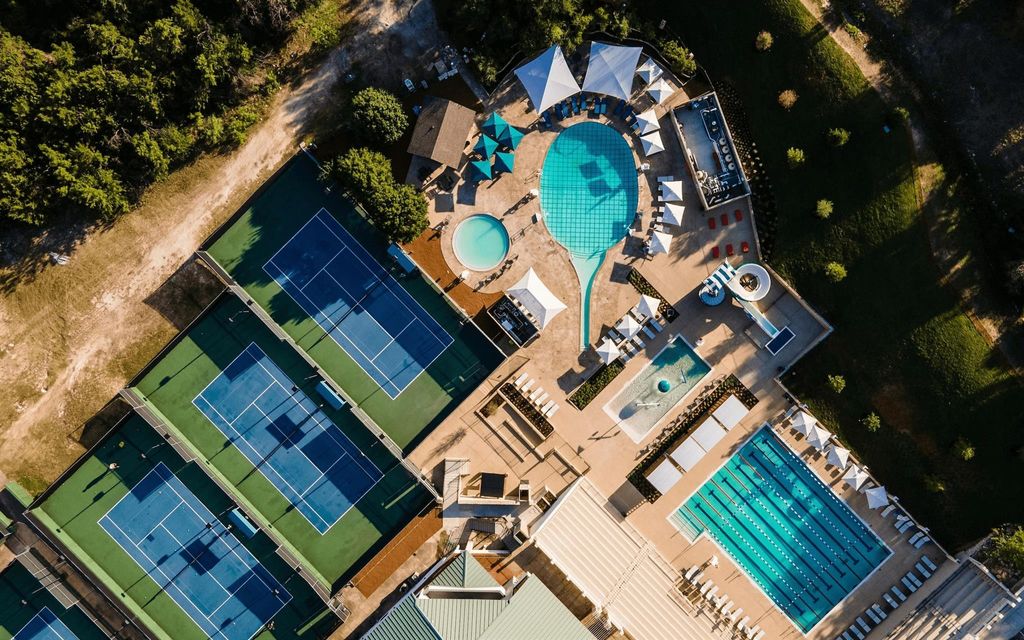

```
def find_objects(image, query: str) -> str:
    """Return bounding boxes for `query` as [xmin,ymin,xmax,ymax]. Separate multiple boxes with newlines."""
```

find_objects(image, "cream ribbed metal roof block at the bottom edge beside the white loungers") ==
[603,542,747,640]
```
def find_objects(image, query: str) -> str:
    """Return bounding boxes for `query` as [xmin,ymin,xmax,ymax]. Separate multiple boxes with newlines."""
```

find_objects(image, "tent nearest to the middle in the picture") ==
[506,266,568,330]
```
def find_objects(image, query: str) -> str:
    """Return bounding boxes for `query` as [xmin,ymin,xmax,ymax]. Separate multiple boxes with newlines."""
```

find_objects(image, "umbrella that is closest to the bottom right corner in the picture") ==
[866,487,888,508]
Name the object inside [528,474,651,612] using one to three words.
building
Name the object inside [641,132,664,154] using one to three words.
umbrella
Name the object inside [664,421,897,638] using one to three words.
swimming pool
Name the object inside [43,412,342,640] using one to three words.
tennis court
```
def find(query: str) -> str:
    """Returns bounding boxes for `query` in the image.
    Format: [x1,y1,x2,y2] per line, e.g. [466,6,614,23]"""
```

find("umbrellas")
[473,134,499,160]
[636,294,660,319]
[866,487,888,508]
[663,204,684,225]
[636,109,660,133]
[641,132,664,154]
[826,444,850,468]
[481,112,508,139]
[498,124,524,150]
[807,425,832,450]
[791,411,817,436]
[595,339,621,365]
[493,152,515,173]
[616,315,642,341]
[650,231,672,254]
[637,59,663,85]
[663,181,682,201]
[471,161,490,180]
[843,464,868,490]
[647,78,674,104]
